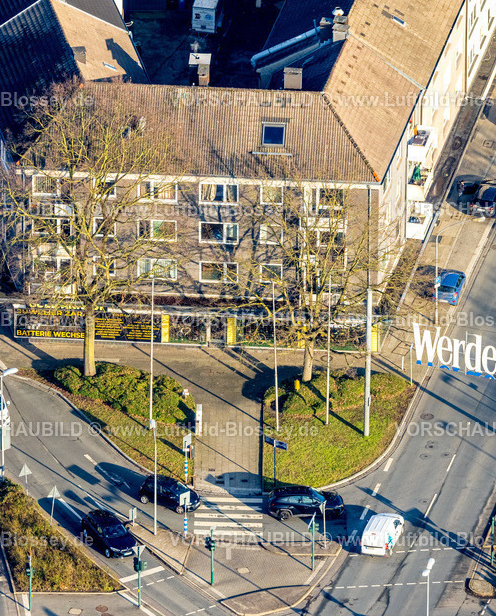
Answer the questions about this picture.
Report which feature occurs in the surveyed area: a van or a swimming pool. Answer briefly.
van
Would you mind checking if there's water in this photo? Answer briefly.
No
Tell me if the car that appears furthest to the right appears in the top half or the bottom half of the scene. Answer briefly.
top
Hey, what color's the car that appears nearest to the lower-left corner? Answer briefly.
black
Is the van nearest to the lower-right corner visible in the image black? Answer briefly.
No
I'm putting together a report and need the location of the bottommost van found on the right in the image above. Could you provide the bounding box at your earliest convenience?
[357,507,406,558]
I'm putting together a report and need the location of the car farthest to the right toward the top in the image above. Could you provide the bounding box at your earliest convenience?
[468,172,496,214]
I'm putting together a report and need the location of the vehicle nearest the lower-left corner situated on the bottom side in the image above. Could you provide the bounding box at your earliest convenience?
[76,499,139,556]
